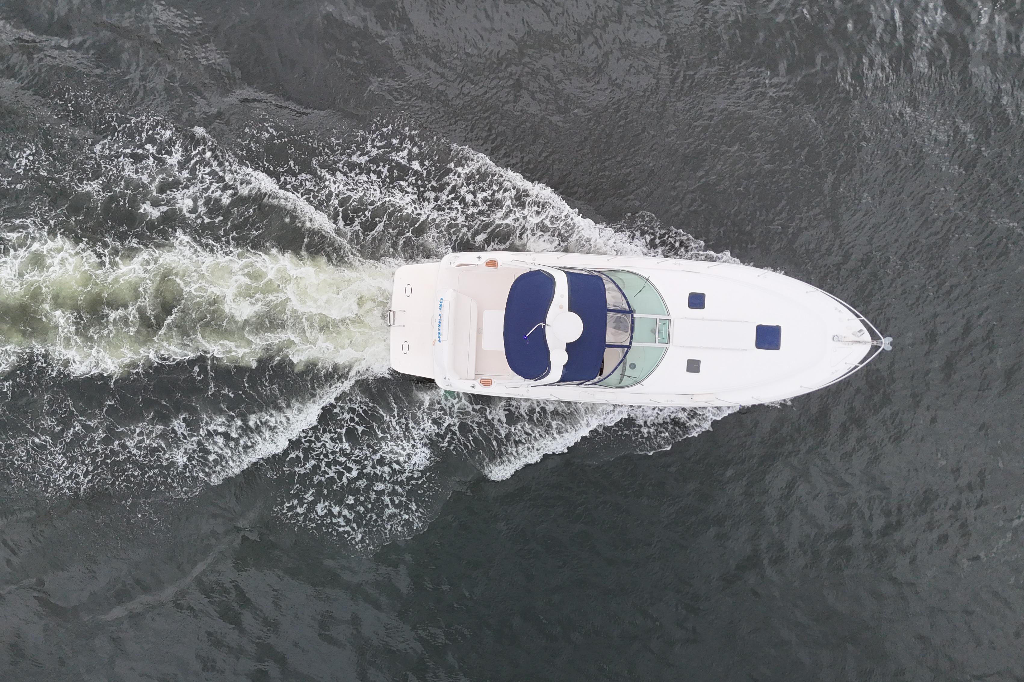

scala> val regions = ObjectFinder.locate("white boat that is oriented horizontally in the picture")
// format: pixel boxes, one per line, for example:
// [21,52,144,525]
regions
[387,250,885,407]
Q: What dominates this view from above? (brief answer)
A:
water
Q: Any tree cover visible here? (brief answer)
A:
No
